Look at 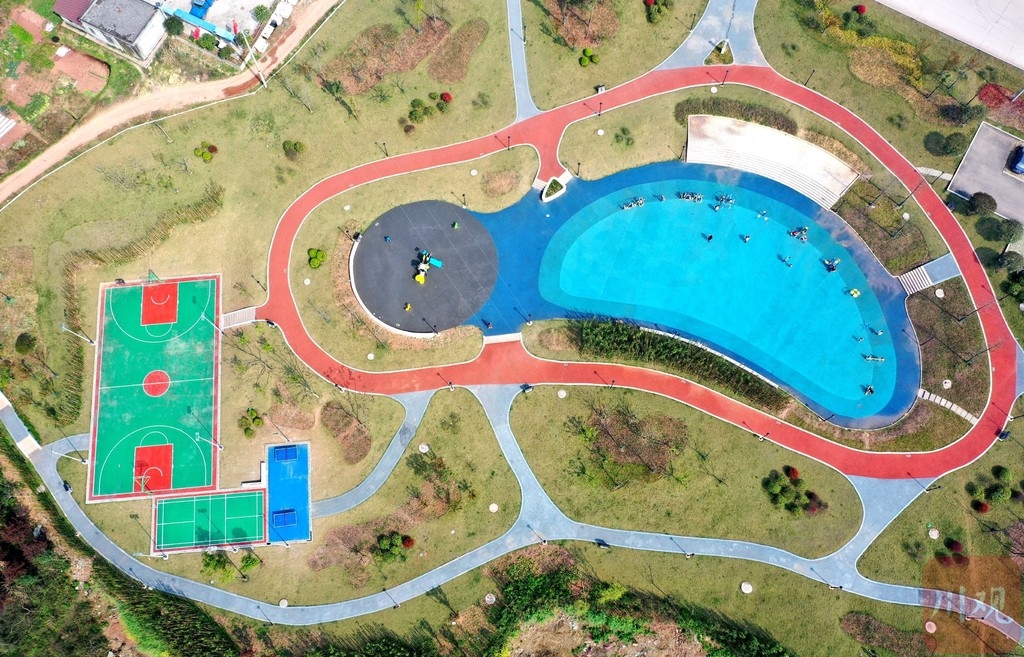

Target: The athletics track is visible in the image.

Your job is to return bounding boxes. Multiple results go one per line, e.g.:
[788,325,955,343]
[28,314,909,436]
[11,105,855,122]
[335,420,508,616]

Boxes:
[256,64,1017,479]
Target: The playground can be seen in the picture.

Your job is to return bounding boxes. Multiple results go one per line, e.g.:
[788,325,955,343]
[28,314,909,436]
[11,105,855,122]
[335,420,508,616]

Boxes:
[353,200,528,333]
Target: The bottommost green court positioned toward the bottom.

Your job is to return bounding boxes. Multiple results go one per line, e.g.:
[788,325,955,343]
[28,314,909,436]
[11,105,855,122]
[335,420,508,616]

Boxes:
[151,488,267,555]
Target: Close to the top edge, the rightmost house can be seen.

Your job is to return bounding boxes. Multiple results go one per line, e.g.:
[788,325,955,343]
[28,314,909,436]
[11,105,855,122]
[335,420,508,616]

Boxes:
[79,0,165,56]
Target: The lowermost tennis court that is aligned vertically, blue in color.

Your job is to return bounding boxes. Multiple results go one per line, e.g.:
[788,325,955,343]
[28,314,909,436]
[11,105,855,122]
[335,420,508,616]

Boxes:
[266,441,311,545]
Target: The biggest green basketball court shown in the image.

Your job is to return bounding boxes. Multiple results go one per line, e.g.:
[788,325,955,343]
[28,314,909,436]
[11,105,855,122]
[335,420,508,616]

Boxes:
[86,273,221,503]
